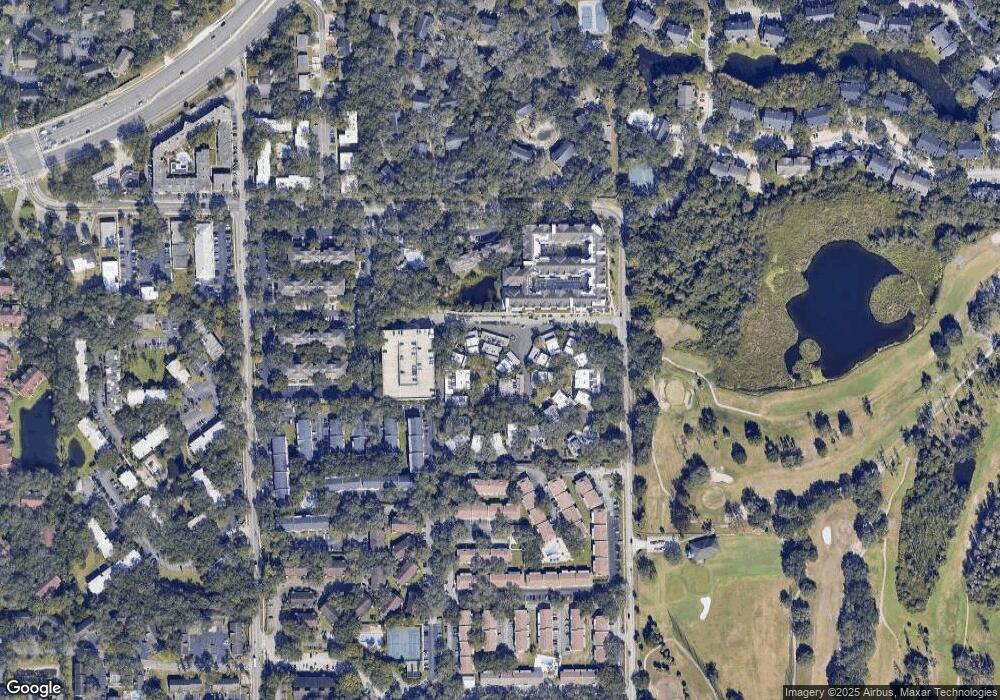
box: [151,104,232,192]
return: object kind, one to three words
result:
building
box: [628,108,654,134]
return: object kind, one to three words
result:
swimming pool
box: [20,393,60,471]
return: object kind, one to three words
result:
pond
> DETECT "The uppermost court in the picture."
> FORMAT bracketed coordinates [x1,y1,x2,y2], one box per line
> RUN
[579,0,608,33]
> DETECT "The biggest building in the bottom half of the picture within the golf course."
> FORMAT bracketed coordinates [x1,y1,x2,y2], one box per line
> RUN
[688,535,724,562]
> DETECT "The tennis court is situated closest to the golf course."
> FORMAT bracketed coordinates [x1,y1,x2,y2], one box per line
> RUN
[629,168,653,186]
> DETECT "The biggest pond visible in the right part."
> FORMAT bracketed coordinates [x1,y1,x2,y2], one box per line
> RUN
[785,240,915,380]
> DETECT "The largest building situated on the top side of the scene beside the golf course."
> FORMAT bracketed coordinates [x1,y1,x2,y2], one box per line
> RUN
[502,223,607,313]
